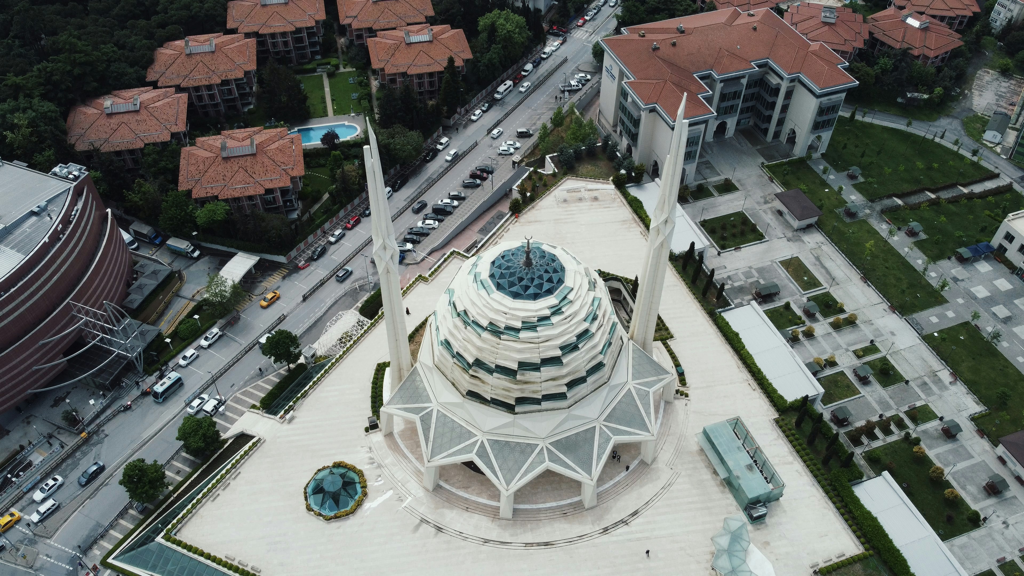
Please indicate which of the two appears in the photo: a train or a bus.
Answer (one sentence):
Visible in the photo is a bus.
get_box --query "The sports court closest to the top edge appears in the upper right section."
[973,69,1024,119]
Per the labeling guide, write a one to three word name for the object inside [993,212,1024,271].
building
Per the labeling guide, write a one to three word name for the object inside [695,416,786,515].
building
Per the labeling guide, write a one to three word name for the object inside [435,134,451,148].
vehicle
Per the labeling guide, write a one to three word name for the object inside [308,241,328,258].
car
